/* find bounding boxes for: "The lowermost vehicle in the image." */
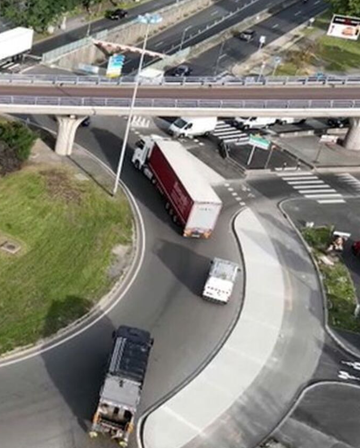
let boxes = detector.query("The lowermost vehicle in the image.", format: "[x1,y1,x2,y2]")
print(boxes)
[92,338,154,443]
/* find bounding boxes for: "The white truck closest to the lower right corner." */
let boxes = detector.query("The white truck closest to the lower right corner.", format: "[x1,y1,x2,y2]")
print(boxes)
[203,257,241,304]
